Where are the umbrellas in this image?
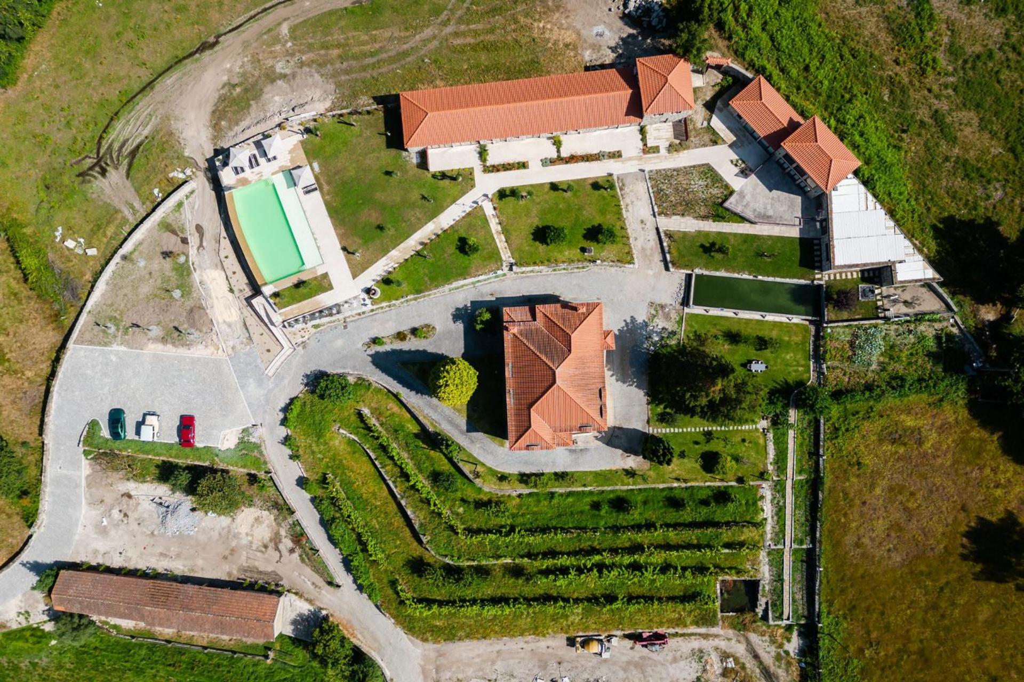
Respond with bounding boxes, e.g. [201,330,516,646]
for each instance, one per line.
[289,164,315,189]
[260,134,285,159]
[229,146,251,168]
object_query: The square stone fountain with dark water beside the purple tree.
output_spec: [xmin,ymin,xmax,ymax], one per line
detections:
[859,284,877,300]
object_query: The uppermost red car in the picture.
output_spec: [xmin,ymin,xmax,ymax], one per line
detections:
[175,415,194,449]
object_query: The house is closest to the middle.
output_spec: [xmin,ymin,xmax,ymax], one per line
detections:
[503,302,616,451]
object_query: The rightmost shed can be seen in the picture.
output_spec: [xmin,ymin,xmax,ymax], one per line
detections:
[819,175,943,286]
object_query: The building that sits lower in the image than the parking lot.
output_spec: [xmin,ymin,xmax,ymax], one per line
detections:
[51,567,286,641]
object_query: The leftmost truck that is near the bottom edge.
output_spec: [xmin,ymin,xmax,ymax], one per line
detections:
[577,639,617,665]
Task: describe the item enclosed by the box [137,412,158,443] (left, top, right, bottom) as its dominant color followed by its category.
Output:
white car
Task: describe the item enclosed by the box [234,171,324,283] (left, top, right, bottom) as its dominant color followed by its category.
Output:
green swimming pool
